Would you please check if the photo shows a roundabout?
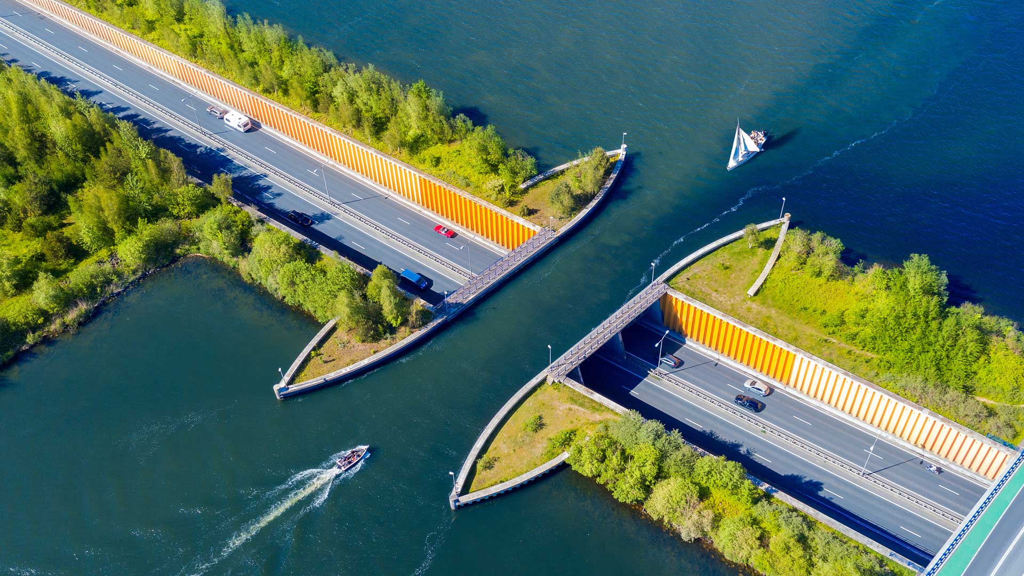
No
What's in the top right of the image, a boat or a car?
boat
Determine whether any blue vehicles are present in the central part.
Yes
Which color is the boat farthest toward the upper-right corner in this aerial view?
white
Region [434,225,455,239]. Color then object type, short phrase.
red car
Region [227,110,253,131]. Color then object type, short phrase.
white camper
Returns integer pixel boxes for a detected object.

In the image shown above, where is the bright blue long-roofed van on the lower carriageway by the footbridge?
[400,268,429,291]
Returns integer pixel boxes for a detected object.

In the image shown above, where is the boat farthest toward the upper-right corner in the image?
[728,117,769,172]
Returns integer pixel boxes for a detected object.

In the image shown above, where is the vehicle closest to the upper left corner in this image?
[208,107,227,120]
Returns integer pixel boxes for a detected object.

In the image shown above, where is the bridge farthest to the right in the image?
[920,441,1024,576]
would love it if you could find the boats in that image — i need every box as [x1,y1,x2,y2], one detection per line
[728,117,769,172]
[334,445,369,474]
